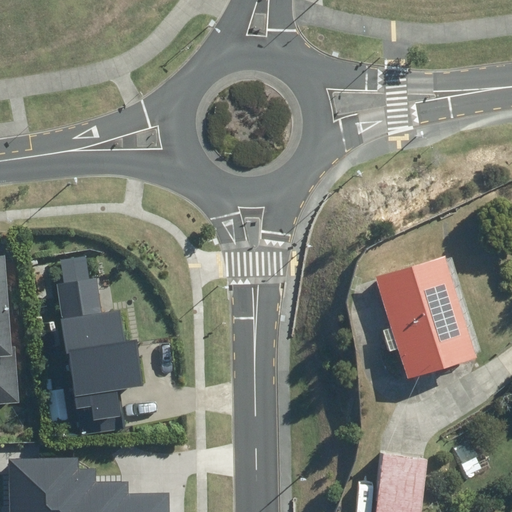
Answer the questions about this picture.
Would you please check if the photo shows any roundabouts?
Yes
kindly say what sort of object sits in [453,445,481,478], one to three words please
shed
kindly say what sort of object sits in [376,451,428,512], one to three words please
building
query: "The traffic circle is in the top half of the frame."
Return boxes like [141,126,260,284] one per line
[166,40,332,206]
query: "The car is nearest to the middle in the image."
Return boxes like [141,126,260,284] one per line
[160,344,174,374]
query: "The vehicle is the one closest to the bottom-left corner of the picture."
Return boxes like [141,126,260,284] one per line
[125,402,158,417]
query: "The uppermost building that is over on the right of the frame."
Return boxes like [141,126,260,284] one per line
[376,257,477,378]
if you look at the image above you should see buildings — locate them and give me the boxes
[376,257,477,378]
[56,256,142,435]
[453,445,481,478]
[376,451,428,512]
[0,248,20,404]
[10,458,170,512]
[50,388,68,422]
